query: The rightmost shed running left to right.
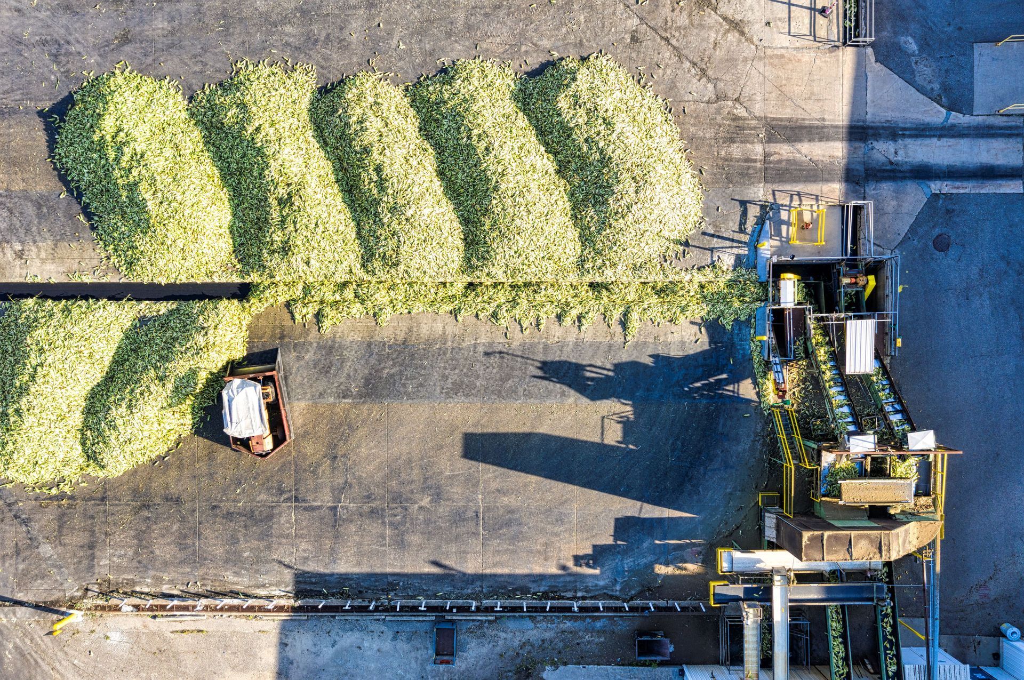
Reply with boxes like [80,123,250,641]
[894,647,967,680]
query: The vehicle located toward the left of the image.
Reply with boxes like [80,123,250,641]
[217,349,295,460]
